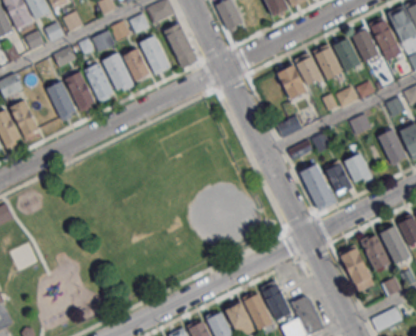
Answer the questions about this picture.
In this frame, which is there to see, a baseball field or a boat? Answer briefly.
baseball field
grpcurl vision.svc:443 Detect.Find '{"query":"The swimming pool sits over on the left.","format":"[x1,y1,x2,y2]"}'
[23,73,38,88]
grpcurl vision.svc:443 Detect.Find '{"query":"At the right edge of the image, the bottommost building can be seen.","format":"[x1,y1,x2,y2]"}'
[371,306,402,332]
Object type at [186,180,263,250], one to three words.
baseball field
